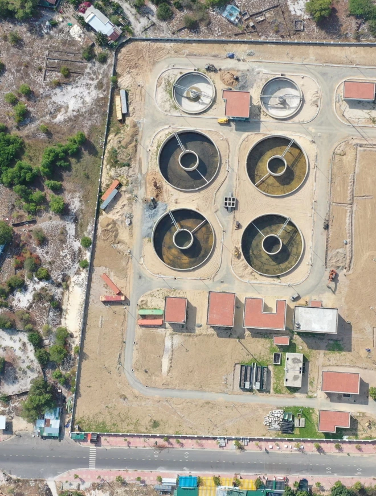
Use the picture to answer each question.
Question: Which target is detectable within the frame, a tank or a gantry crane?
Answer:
tank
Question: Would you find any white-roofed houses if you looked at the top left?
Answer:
Yes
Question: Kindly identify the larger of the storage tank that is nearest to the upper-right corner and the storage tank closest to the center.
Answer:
the storage tank closest to the center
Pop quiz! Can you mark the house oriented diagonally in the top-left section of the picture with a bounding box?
[80,5,123,43]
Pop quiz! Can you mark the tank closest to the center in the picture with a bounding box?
[152,208,215,271]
